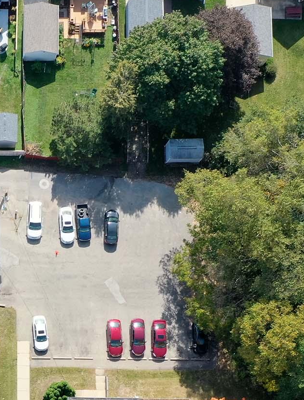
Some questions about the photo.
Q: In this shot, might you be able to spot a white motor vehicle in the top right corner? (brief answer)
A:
No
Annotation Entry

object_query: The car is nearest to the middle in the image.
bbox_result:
[102,208,120,246]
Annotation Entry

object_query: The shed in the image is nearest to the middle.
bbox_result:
[161,139,205,168]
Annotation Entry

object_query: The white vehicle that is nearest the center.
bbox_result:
[58,207,76,245]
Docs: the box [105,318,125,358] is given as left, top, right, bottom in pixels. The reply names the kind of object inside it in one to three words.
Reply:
car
